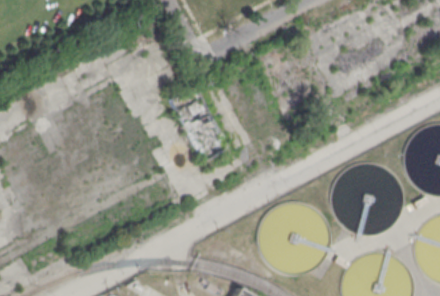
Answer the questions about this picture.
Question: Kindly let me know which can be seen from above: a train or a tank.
tank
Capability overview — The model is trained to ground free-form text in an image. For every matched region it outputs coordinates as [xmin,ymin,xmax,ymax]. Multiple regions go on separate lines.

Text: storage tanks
[328,160,406,240]
[255,200,336,276]
[340,246,416,296]
[401,120,440,196]
[408,212,440,286]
